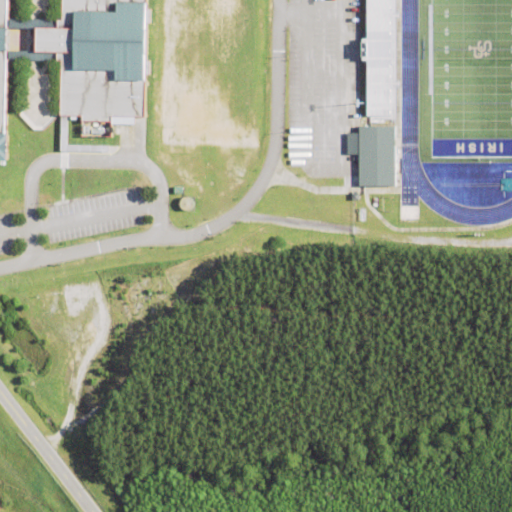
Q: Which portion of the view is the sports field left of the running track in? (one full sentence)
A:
Look in the top portion of the view to spot the sports field left of the running track.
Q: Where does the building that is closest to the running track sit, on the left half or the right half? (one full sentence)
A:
You can find the building that is closest to the running track on the right side of the picture.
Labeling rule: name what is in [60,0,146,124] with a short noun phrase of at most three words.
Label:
building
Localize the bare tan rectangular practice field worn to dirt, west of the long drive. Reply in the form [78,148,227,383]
[160,0,262,150]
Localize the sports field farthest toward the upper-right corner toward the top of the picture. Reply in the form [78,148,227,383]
[418,0,512,164]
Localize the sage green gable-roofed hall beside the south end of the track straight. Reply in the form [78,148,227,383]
[348,126,396,187]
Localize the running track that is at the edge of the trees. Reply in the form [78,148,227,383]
[402,0,512,227]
